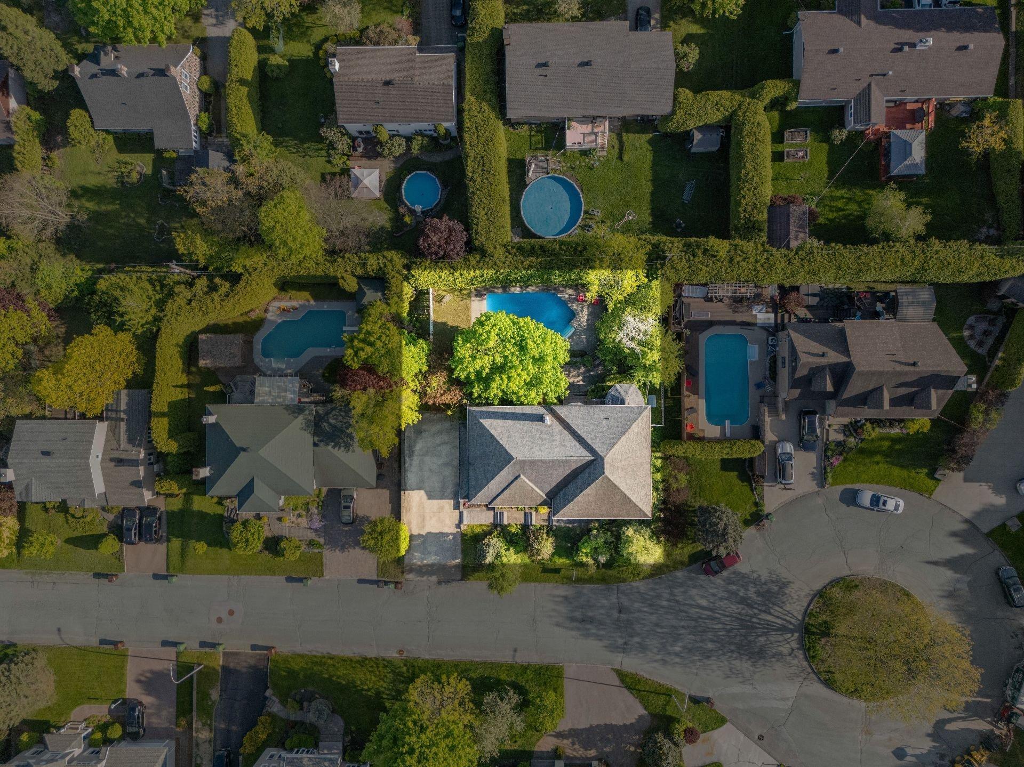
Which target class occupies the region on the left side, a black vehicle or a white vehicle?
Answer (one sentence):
Visible on the left side is a black vehicle.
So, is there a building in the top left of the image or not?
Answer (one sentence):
Yes, there is a building in the top left of the image.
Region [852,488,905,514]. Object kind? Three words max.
car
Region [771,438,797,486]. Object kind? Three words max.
car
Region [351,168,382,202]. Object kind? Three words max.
gazebo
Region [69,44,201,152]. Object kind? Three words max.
house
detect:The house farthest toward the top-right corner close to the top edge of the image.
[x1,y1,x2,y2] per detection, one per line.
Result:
[789,0,1005,136]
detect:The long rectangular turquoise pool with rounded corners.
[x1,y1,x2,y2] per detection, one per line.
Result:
[700,326,767,440]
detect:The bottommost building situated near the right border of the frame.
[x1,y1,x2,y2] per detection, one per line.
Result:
[778,320,977,418]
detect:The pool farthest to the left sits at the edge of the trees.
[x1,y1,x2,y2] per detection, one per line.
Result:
[253,302,360,376]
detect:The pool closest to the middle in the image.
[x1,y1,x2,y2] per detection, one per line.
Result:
[471,288,599,349]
